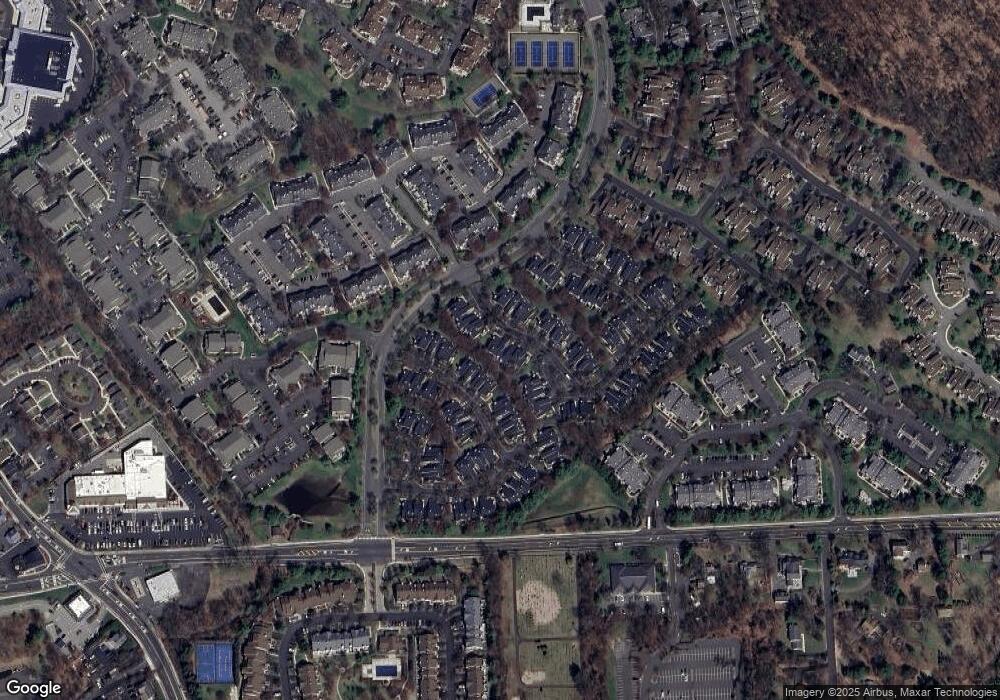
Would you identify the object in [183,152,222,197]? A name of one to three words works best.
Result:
building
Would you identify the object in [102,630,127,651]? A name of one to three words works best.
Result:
house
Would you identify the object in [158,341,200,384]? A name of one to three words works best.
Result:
building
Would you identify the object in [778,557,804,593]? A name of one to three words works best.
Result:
house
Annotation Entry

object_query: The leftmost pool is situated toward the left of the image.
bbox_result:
[199,288,229,321]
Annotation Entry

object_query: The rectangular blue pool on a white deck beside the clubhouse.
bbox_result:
[362,657,400,679]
